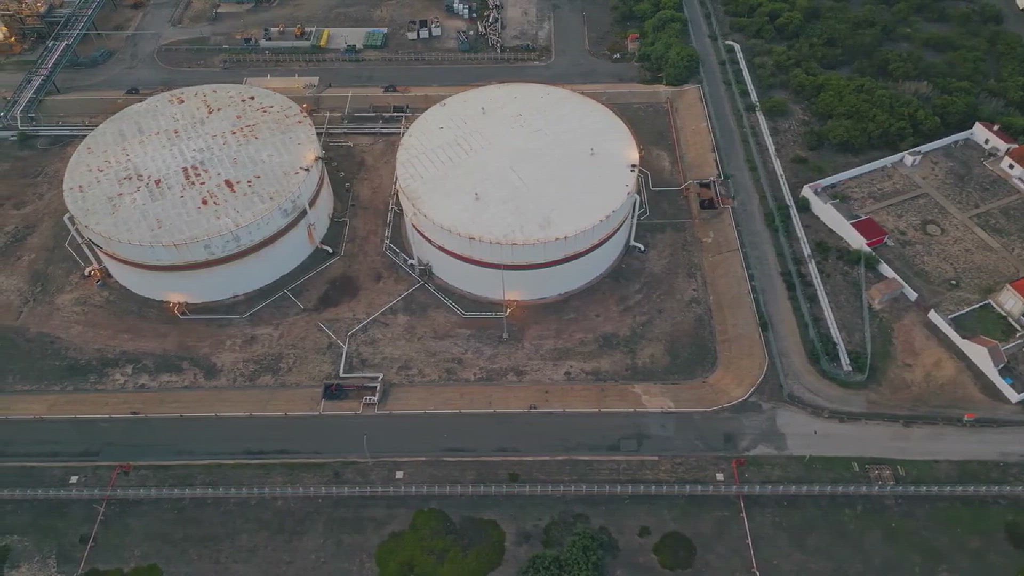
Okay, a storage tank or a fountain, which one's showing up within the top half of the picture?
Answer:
storage tank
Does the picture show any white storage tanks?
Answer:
Yes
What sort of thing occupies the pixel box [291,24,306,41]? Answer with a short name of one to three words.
work vehicle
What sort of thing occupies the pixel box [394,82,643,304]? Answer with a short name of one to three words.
storage tank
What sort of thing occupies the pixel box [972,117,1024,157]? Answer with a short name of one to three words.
house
